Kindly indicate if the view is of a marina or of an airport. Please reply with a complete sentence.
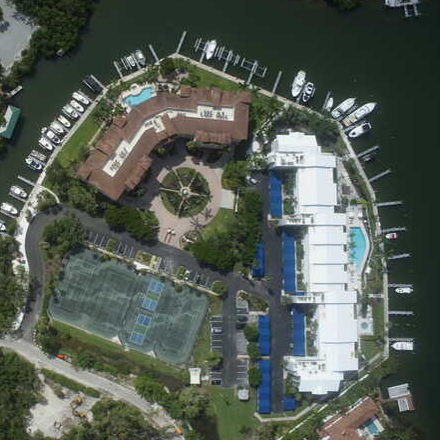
It's a marina.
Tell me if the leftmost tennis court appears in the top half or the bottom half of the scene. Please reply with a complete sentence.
Seen from above, the leftmost tennis court lies in the bottom half of the view.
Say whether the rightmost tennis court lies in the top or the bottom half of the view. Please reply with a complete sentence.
Seen from above, the rightmost tennis court lies in the bottom half of the view.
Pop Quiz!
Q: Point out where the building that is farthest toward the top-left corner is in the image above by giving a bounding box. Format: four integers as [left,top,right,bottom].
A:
[0,106,21,138]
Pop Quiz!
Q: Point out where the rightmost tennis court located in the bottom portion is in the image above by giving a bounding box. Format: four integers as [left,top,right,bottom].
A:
[153,293,198,357]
